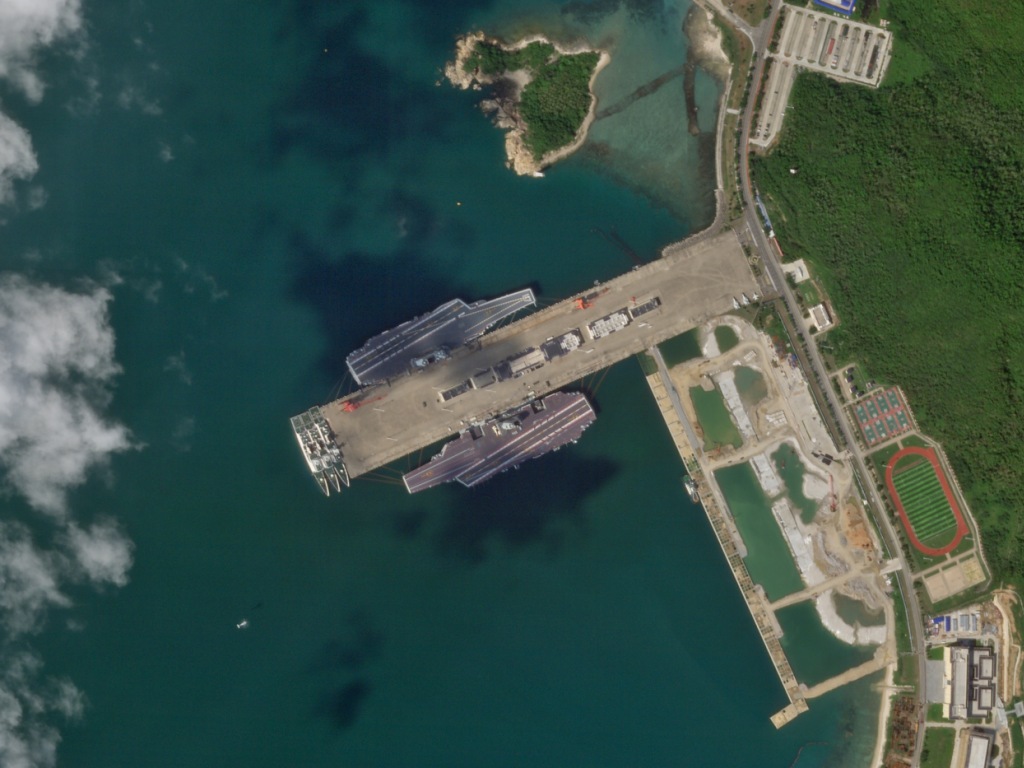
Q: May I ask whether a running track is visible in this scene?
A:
Yes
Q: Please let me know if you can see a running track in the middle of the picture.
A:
No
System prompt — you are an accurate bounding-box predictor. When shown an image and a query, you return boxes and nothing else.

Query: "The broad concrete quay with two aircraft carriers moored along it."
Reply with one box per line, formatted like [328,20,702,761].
[320,229,762,479]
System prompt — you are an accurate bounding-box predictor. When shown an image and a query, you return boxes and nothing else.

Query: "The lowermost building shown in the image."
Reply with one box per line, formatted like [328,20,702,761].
[957,730,994,768]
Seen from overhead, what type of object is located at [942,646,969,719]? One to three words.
building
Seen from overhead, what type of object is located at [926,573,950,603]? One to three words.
sports court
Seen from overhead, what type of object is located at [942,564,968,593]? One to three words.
sports court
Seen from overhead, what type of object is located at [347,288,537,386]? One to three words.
ship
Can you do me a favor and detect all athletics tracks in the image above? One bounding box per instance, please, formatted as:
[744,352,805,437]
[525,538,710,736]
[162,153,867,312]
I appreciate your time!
[887,446,965,556]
